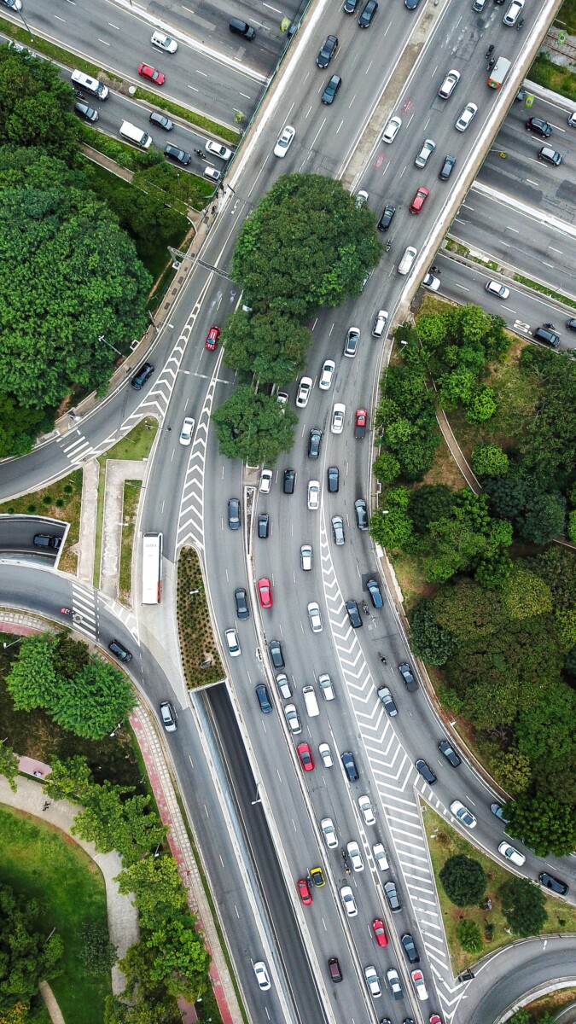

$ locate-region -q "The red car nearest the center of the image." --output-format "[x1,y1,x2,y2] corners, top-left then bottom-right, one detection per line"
[257,578,272,609]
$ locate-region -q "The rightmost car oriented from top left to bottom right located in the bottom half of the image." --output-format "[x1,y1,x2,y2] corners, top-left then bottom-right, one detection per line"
[538,870,570,896]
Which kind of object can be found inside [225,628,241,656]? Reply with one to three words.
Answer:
car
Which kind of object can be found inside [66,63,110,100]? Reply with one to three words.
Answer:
vehicle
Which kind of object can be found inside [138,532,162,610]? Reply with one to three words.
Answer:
bus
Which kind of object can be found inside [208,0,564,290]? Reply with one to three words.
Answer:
bridge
